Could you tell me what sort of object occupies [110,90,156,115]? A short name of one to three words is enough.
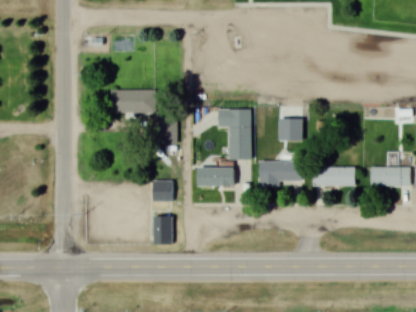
house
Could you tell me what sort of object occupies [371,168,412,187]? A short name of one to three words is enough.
house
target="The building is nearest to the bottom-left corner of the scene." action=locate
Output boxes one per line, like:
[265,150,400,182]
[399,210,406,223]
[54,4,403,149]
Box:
[154,215,175,244]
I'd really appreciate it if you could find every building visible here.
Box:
[279,118,304,142]
[110,90,156,115]
[153,181,174,202]
[154,215,175,244]
[164,120,178,145]
[219,109,253,160]
[310,168,356,188]
[371,168,412,187]
[197,168,236,188]
[396,108,415,124]
[259,162,306,188]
